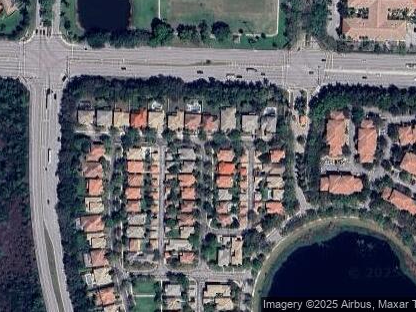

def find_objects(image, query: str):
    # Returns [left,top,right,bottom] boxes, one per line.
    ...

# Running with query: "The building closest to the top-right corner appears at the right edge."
[341,0,416,42]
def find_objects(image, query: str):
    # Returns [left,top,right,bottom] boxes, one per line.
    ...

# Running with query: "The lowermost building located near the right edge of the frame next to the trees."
[381,185,416,214]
